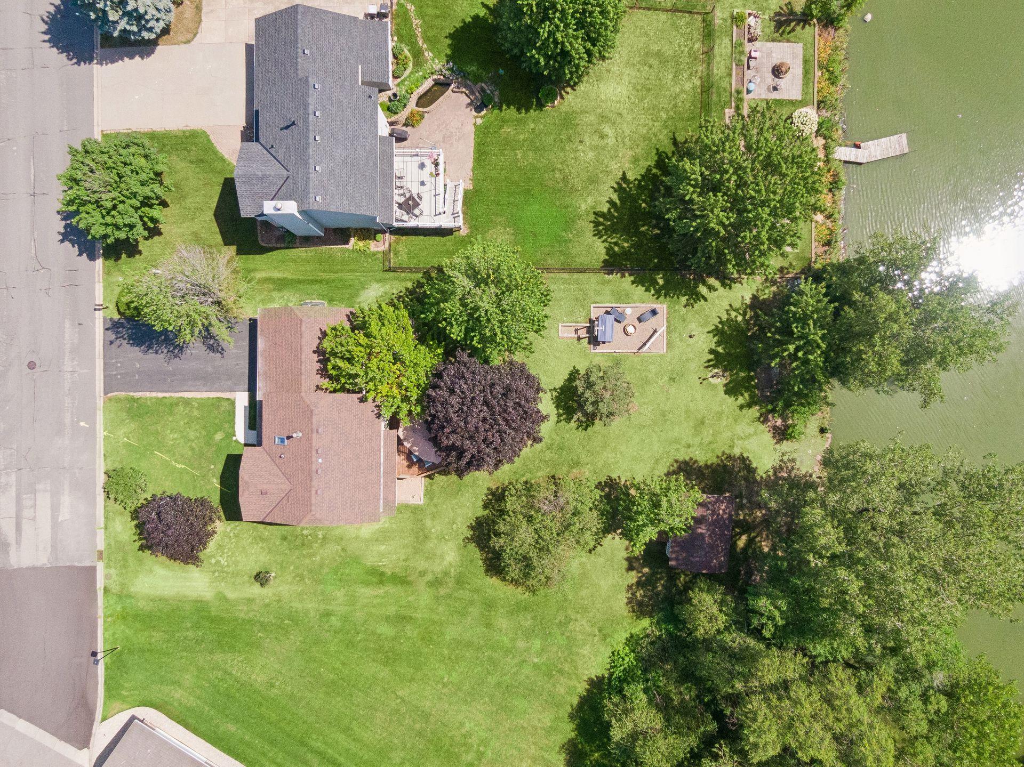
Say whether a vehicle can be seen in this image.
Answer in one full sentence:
No, there is no vehicle in the image.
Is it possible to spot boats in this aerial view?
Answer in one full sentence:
No, I can't see a single boat in this photo.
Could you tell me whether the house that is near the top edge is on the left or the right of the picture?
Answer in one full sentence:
The house that is near the top edge appears in the left half of the scene.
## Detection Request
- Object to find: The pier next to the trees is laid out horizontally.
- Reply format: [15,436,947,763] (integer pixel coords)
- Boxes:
[834,128,918,163]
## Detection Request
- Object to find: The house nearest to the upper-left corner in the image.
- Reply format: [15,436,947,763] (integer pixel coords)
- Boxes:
[222,2,405,236]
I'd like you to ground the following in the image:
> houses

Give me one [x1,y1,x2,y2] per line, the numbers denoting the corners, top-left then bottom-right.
[238,306,403,526]
[222,2,405,236]
[101,719,225,767]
